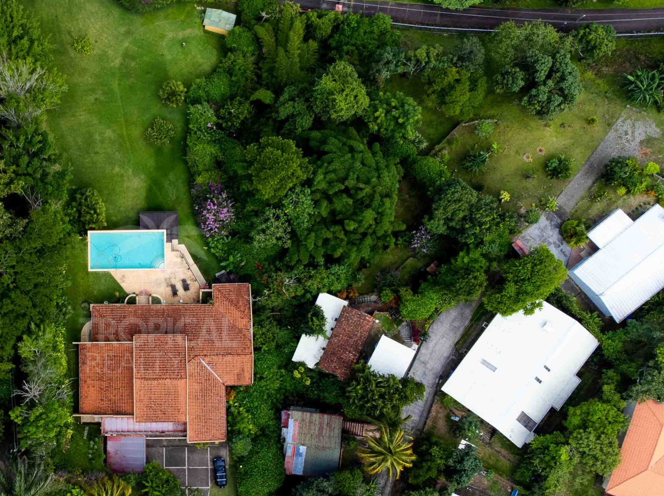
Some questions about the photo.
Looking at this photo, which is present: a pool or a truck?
pool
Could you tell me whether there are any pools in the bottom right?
No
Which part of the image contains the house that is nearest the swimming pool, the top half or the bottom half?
bottom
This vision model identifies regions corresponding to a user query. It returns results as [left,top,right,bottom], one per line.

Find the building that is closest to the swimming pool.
[72,283,254,444]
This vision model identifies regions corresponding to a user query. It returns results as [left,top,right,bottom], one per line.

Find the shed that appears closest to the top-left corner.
[203,8,237,36]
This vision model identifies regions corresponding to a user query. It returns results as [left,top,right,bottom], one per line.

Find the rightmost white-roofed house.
[563,204,664,324]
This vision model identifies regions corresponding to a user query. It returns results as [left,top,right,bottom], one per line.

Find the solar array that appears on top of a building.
[516,412,537,433]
